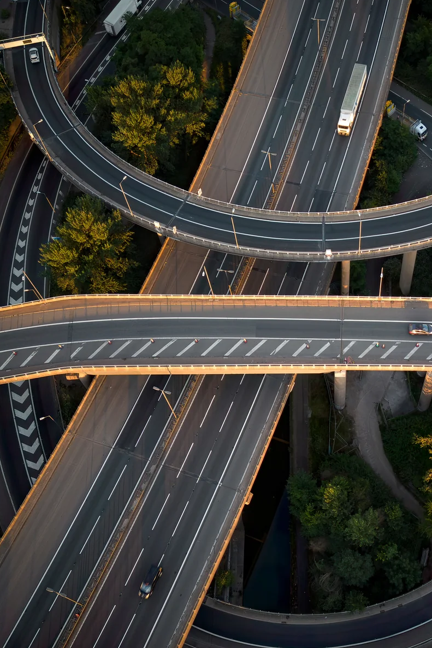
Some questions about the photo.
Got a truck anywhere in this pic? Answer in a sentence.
Yes, you can see a truck in this photo.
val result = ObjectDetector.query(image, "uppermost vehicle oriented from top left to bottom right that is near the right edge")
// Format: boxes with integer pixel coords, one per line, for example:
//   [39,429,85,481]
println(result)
[388,104,429,141]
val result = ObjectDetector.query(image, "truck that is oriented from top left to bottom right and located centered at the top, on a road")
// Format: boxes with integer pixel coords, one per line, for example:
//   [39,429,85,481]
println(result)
[228,1,260,34]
